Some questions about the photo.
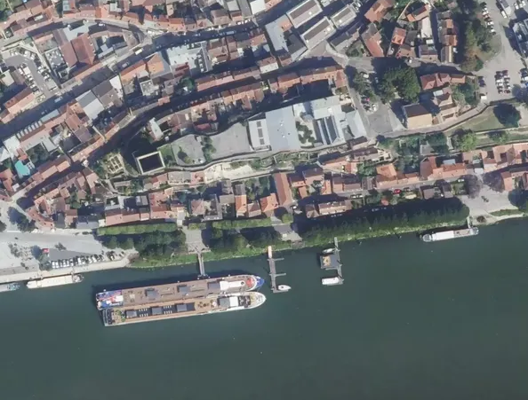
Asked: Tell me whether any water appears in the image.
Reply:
Yes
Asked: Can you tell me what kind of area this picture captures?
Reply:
residential area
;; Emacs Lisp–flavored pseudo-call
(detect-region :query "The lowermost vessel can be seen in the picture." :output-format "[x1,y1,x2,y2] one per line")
[102,293,267,327]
